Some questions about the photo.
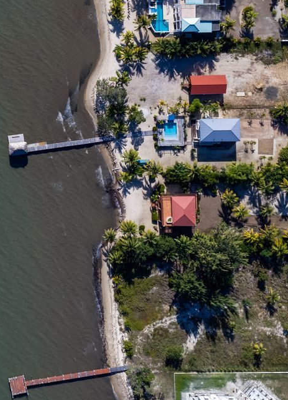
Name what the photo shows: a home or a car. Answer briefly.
home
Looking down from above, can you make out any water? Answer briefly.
Yes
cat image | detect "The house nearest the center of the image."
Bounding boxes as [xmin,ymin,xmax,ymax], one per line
[159,192,197,232]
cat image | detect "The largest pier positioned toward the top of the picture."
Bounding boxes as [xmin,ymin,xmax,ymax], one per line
[26,133,115,152]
